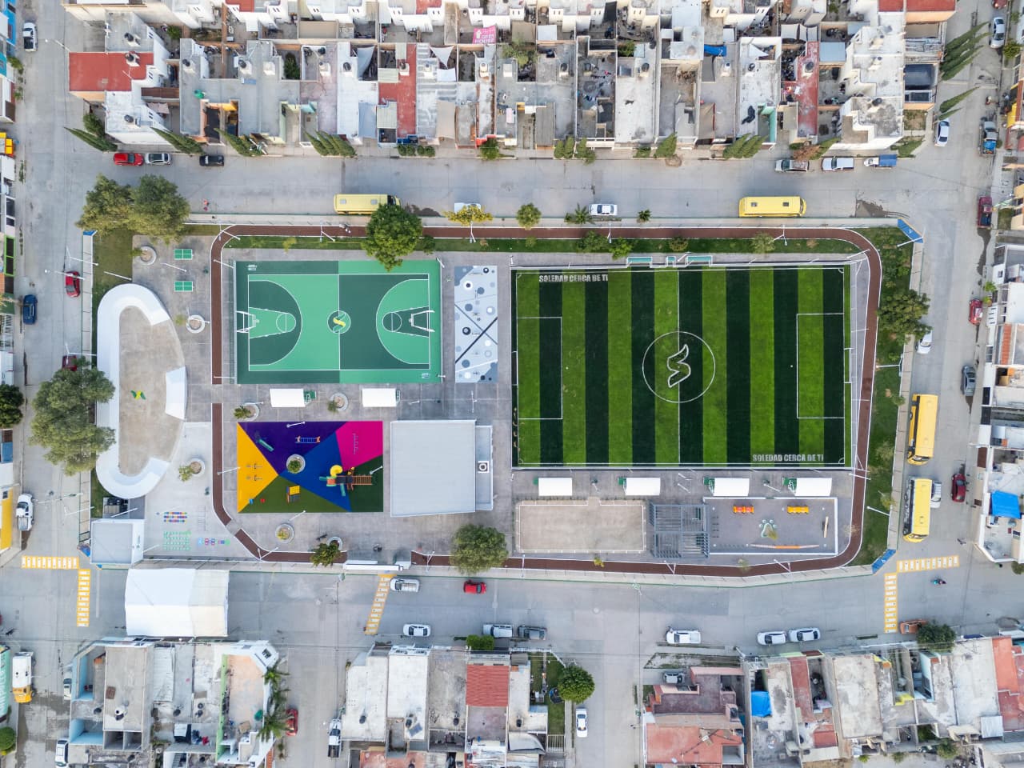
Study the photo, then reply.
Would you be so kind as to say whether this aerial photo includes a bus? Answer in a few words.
Yes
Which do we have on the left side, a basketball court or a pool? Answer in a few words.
basketball court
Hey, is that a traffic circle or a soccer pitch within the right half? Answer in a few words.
soccer pitch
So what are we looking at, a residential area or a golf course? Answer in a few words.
residential area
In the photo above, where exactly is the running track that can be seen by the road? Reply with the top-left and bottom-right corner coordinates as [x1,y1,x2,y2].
[211,225,883,576]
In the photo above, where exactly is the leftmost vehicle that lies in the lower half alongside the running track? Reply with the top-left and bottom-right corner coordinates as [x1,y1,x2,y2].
[390,578,420,592]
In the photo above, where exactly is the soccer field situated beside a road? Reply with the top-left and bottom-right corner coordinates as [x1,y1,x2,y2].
[512,265,851,468]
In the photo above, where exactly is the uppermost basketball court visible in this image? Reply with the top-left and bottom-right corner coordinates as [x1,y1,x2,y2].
[237,261,440,383]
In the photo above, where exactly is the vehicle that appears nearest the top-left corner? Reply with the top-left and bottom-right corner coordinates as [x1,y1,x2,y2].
[22,22,39,53]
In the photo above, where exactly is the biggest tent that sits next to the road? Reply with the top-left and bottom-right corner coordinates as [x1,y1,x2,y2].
[125,566,234,636]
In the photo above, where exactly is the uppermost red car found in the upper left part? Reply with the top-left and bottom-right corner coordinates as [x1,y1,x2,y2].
[113,151,145,167]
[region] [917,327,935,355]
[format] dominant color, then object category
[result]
white car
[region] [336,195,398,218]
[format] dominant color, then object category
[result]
yellow bus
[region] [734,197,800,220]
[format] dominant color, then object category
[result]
yellow bus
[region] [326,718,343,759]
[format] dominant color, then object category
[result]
white vehicle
